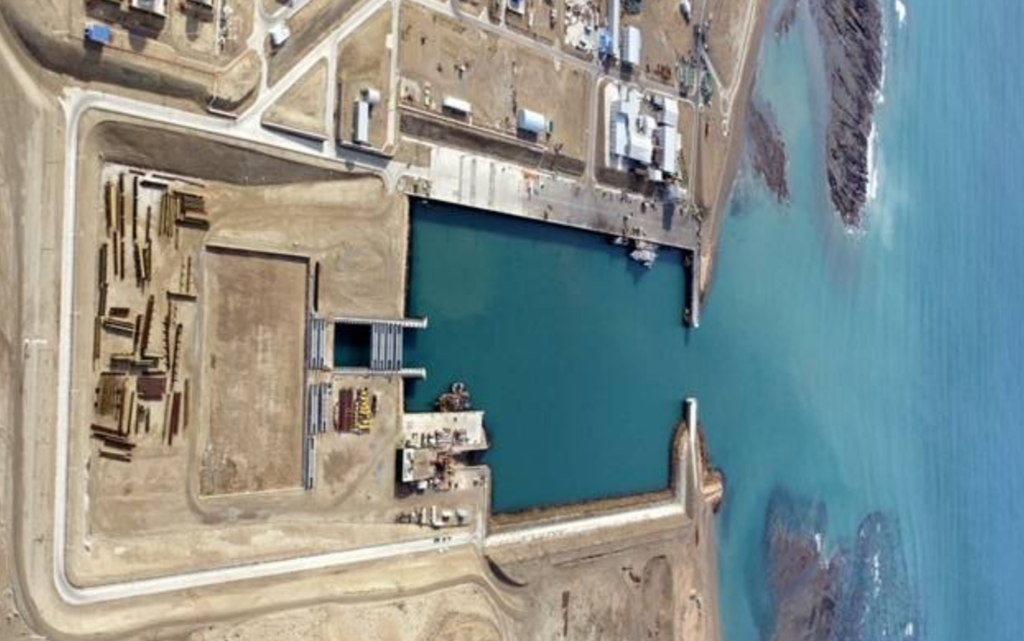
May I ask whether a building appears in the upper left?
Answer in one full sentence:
Yes, there is a building in the upper left.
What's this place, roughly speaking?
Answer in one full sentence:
The picture captures a port.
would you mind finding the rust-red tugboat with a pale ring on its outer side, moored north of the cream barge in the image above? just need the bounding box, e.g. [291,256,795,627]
[436,384,470,412]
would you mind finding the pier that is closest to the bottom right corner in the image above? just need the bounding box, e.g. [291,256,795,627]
[686,398,698,472]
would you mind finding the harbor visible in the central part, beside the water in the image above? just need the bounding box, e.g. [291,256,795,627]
[397,147,700,411]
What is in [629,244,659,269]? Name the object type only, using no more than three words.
ship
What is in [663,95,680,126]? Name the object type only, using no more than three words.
building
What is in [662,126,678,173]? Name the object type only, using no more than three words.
building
